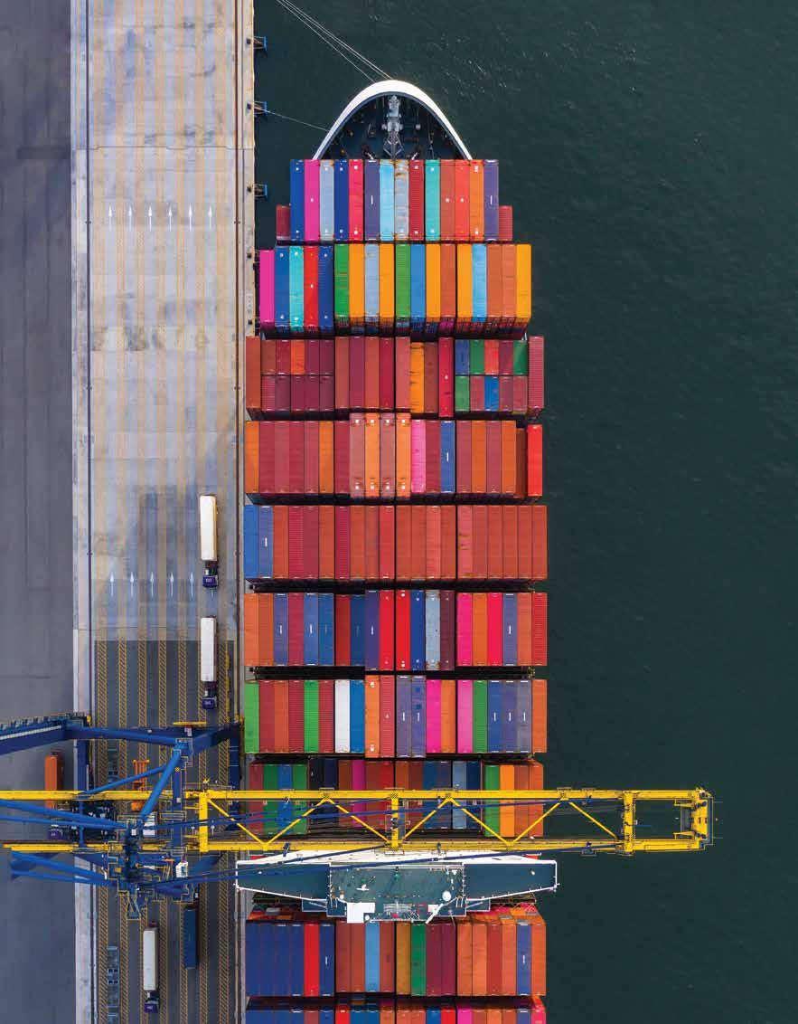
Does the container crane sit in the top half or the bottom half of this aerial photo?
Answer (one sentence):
The bottom half of the photo is where the container crane is.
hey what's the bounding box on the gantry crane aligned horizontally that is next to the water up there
[0,700,717,917]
